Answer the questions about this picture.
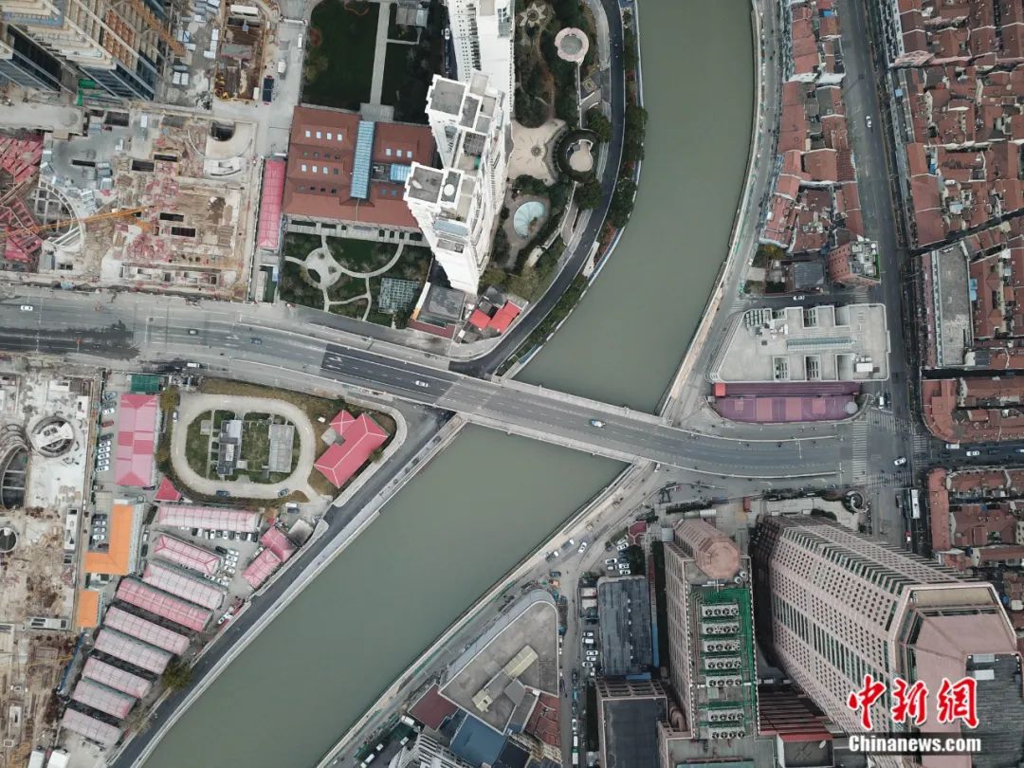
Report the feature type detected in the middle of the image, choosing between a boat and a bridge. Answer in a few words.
bridge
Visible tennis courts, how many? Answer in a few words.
0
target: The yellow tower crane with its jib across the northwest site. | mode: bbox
[0,201,155,240]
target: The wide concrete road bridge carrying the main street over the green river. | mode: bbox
[451,369,678,473]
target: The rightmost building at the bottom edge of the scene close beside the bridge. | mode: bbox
[749,506,1024,768]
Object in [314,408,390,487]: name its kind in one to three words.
house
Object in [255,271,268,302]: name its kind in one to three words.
shed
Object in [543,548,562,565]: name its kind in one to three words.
vehicle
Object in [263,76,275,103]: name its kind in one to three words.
vehicle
